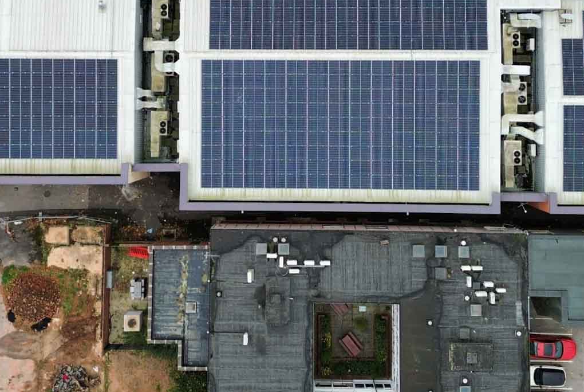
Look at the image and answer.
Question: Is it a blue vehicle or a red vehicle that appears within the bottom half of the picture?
red vehicle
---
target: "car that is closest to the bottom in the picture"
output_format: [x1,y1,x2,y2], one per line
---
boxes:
[530,363,568,390]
